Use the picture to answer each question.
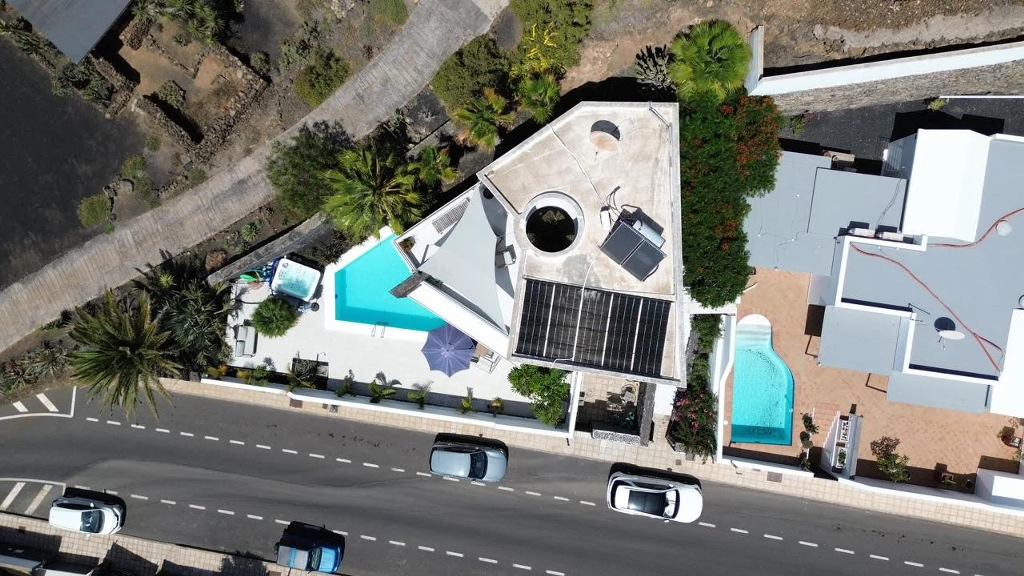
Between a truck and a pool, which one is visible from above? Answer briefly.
pool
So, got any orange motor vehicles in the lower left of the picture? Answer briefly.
No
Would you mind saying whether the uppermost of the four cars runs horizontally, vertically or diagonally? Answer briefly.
horizontally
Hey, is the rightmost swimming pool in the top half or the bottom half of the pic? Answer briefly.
bottom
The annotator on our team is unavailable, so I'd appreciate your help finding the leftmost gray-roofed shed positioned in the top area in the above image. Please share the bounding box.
[29,0,141,65]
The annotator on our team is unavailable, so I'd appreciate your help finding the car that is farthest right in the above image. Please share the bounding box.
[606,470,703,525]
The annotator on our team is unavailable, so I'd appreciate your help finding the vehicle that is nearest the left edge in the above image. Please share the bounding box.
[45,492,128,541]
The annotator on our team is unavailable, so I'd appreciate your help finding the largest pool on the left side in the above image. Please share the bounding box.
[324,223,453,341]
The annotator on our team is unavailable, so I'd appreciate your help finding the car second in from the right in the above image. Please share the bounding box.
[426,437,508,484]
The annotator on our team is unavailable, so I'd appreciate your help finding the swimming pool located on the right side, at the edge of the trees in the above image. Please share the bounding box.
[724,313,795,446]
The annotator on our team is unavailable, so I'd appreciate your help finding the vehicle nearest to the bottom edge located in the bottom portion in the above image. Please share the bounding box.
[271,529,345,573]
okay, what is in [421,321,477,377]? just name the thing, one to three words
umbrella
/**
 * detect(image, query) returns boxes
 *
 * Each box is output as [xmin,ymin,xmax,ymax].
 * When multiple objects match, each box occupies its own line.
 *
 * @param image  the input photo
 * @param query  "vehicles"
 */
[45,492,128,541]
[426,437,508,484]
[271,529,345,573]
[606,470,703,525]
